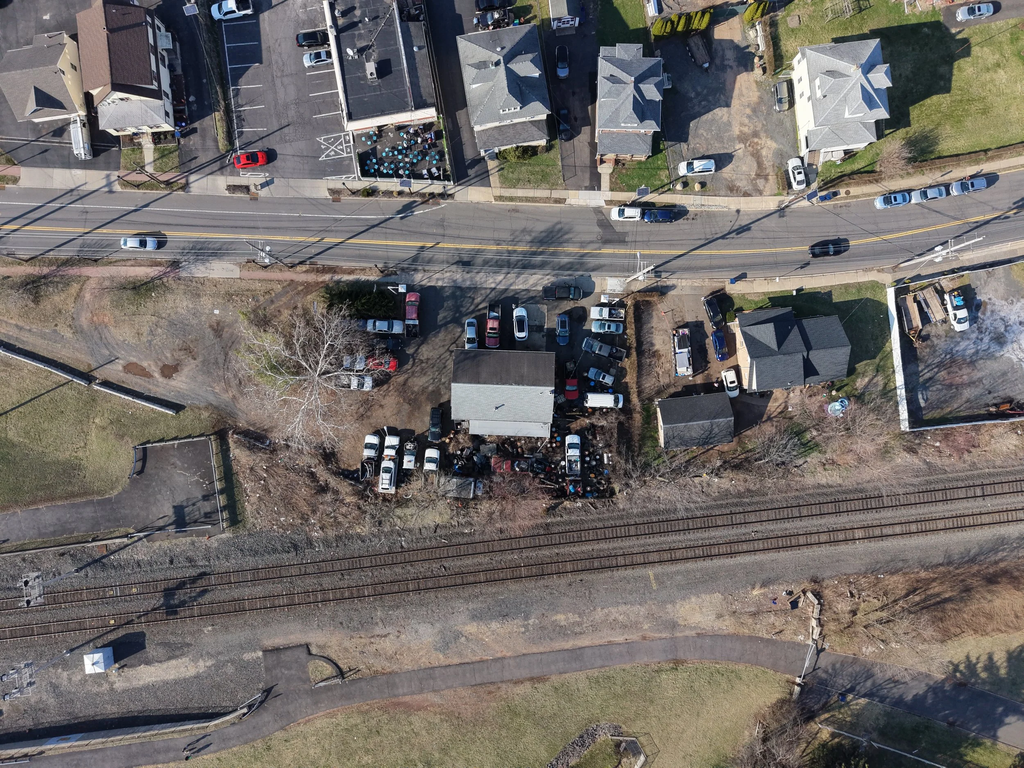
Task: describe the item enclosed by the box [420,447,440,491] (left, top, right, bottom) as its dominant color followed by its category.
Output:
white vehicle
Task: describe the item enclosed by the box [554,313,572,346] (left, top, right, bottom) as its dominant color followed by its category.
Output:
black car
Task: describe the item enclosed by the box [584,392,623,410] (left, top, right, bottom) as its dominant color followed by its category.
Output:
white vehicle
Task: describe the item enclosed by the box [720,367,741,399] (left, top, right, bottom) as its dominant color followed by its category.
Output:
white car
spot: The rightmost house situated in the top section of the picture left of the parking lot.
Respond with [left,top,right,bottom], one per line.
[75,0,182,146]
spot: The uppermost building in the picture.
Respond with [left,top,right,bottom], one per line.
[548,0,578,35]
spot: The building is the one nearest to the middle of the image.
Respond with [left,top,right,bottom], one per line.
[451,349,555,438]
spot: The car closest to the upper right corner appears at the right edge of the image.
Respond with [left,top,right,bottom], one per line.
[953,2,996,25]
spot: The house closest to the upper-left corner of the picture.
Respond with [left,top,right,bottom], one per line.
[0,32,88,128]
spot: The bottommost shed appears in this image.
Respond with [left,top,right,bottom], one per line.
[84,647,114,674]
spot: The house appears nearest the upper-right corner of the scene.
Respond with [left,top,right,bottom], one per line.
[785,38,892,174]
